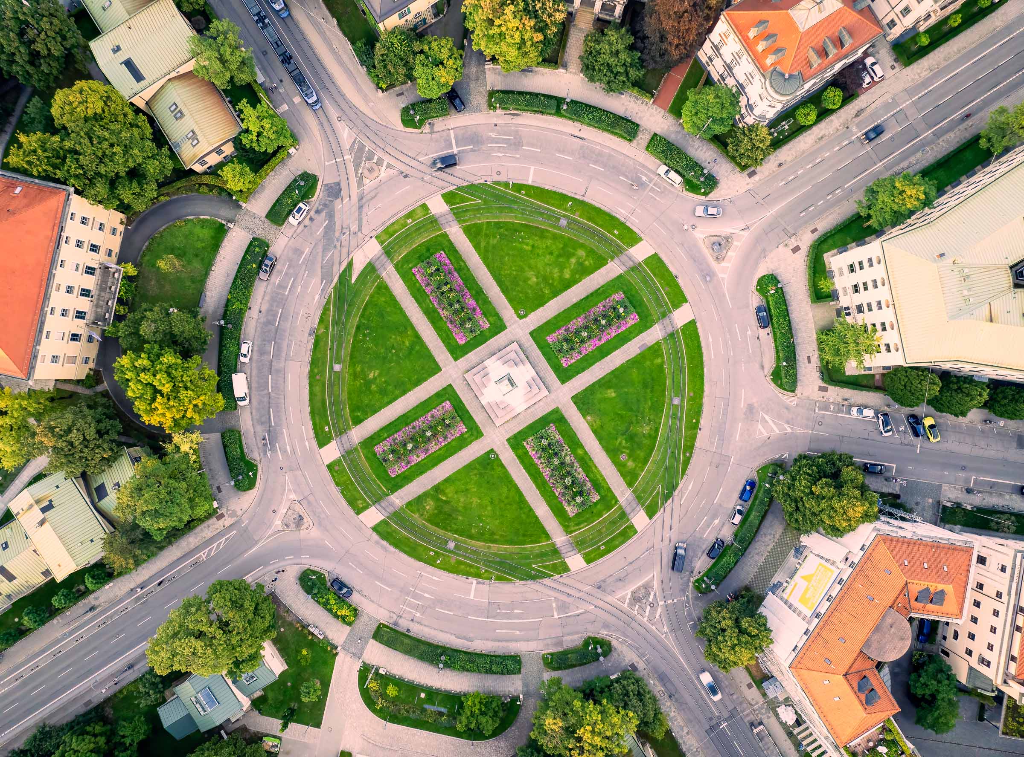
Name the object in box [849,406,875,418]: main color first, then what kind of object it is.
white vehicle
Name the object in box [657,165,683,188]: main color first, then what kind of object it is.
white car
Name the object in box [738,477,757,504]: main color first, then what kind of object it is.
blue car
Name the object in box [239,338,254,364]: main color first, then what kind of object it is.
white car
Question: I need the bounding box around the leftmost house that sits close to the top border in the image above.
[81,0,249,172]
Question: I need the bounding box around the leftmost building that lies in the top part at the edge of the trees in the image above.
[0,172,131,384]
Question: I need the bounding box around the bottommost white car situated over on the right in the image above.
[701,671,720,700]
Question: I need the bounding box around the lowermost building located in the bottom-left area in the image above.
[161,651,291,741]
